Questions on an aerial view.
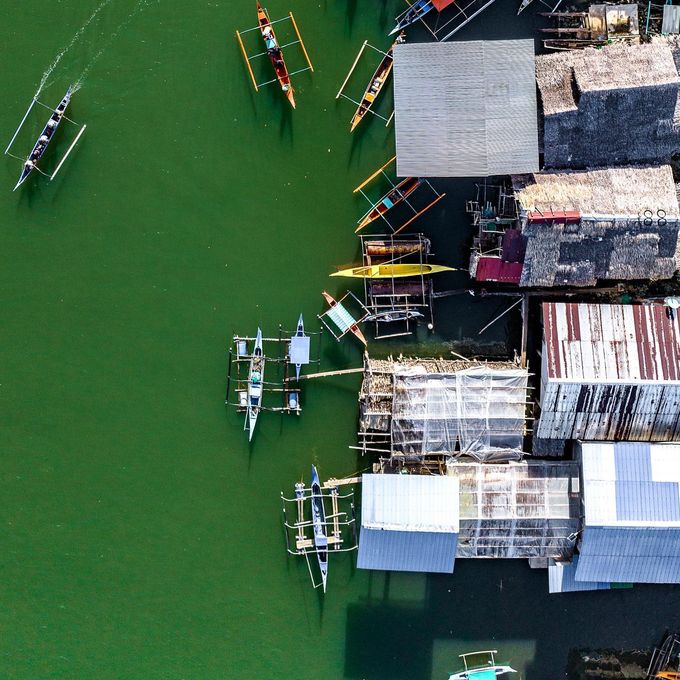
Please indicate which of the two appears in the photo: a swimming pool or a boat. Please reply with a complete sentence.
I can see a boat in this picture.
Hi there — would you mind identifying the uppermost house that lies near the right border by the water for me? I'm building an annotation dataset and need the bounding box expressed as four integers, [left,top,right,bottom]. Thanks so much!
[536,31,680,173]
